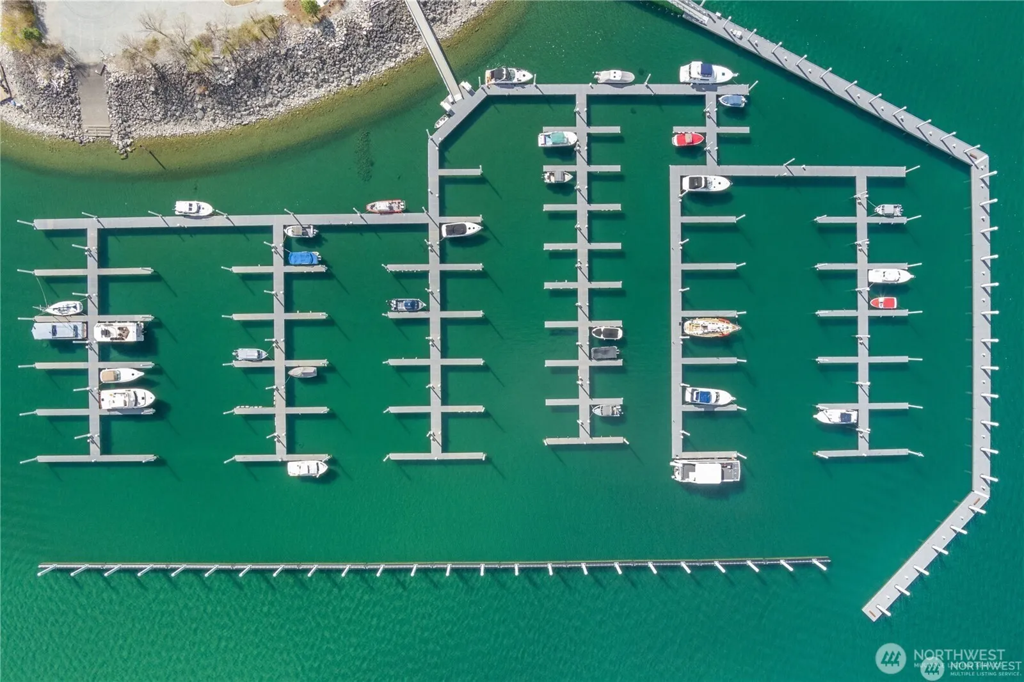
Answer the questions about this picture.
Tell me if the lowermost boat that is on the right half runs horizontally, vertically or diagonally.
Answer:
horizontally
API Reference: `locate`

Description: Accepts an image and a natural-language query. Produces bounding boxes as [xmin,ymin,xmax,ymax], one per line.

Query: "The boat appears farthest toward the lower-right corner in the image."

[813,409,858,427]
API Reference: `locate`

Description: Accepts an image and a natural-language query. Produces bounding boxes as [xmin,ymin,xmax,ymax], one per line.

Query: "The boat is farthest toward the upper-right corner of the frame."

[868,200,906,216]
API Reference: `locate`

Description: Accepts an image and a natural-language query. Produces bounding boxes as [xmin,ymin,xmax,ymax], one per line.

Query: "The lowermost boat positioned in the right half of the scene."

[671,459,740,483]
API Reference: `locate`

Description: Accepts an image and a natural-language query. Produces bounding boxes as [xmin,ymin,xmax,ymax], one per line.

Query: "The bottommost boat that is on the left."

[288,461,329,478]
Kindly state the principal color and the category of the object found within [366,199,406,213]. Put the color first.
white boat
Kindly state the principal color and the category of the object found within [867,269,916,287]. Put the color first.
white boat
